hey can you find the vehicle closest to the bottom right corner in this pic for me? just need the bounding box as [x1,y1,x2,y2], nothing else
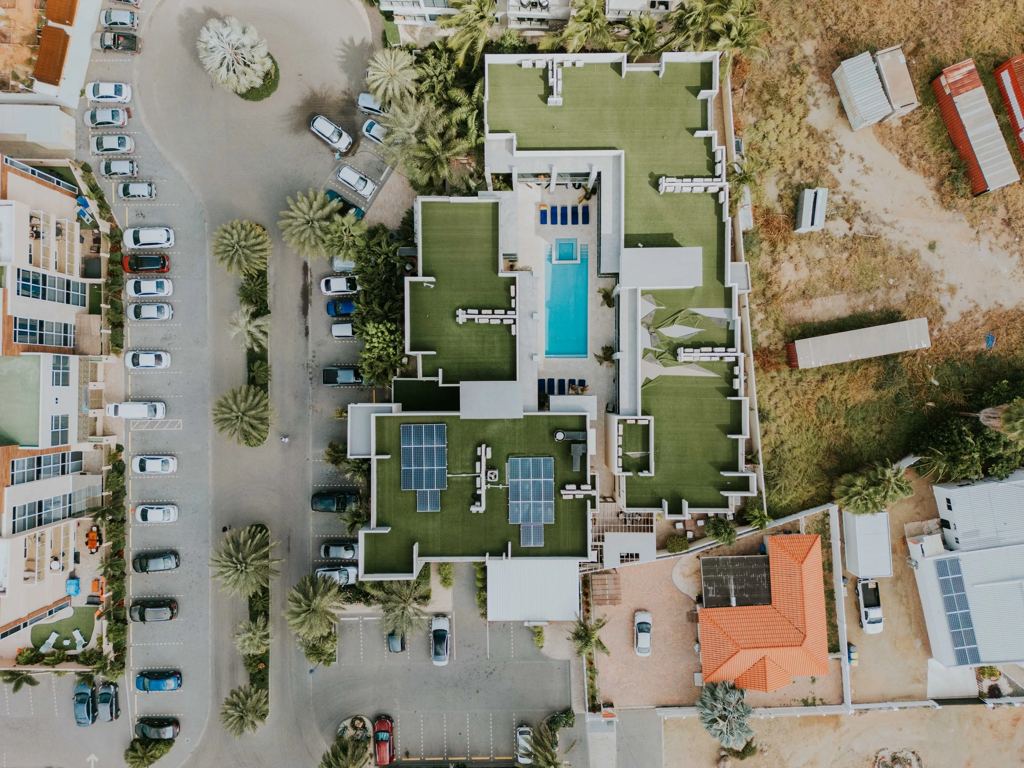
[856,578,886,633]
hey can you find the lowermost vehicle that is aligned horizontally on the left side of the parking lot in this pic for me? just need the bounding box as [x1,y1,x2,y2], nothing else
[136,715,183,738]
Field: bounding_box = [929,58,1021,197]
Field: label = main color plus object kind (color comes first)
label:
white shipping container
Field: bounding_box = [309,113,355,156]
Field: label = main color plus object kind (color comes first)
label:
white car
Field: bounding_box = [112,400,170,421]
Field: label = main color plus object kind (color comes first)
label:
white vehicle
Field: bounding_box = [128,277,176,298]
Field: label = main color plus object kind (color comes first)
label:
white car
